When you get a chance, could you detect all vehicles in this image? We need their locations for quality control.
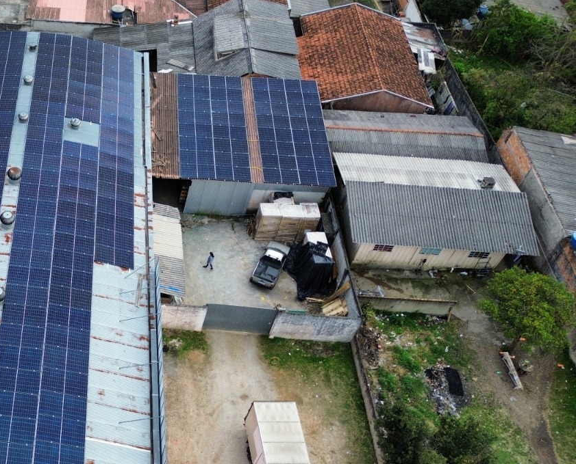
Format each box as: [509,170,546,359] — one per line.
[245,399,316,464]
[257,236,293,292]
